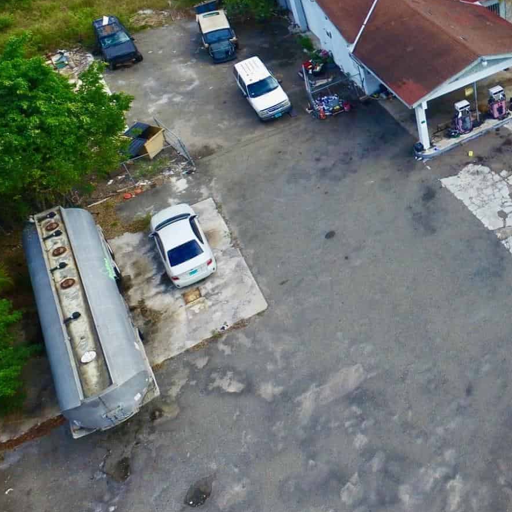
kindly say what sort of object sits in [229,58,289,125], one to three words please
car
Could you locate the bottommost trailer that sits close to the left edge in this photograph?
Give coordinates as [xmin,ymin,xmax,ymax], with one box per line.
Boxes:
[20,187,167,459]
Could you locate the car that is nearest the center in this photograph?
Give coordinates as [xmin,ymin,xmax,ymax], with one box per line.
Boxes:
[151,207,223,293]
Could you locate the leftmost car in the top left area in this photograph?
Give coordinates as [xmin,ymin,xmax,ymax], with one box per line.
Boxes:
[94,19,142,72]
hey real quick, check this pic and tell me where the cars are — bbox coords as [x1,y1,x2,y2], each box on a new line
[151,207,223,293]
[229,58,289,125]
[94,19,142,72]
[195,7,241,65]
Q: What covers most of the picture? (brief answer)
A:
paved ground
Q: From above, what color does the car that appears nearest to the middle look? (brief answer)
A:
white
